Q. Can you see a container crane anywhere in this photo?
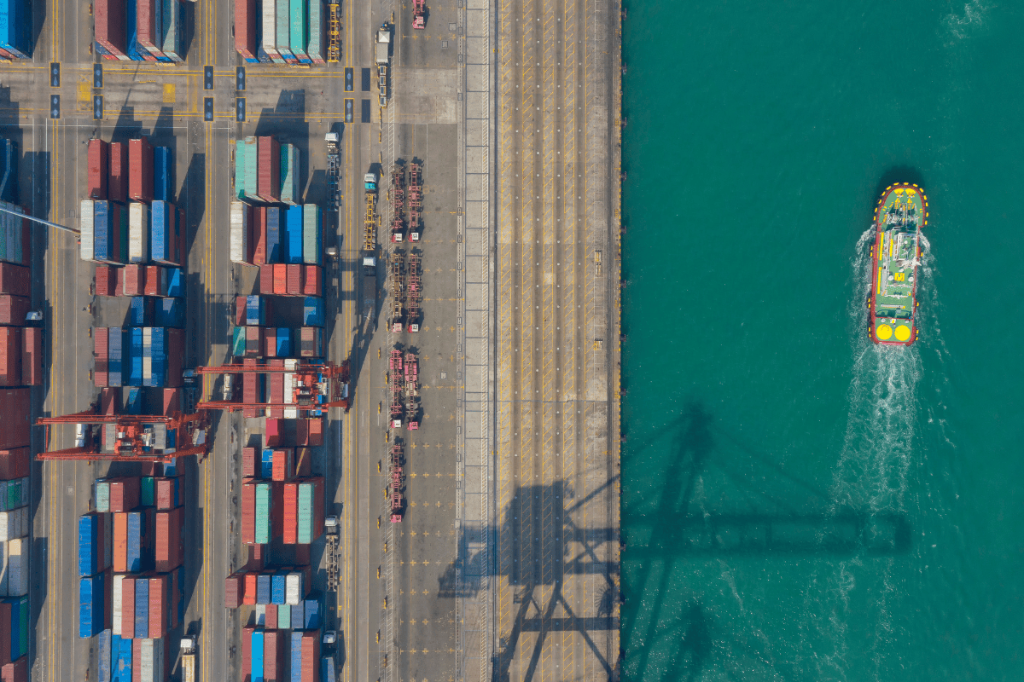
Yes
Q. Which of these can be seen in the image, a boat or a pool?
boat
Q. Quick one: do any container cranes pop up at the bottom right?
No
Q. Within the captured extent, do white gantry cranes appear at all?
No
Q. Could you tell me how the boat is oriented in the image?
up and down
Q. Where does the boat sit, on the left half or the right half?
right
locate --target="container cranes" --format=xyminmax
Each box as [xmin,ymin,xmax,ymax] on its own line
[195,357,352,420]
[36,402,209,466]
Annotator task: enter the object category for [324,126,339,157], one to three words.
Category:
vehicle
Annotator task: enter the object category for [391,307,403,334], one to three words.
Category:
vehicle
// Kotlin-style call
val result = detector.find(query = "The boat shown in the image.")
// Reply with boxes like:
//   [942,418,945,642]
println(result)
[865,182,929,345]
